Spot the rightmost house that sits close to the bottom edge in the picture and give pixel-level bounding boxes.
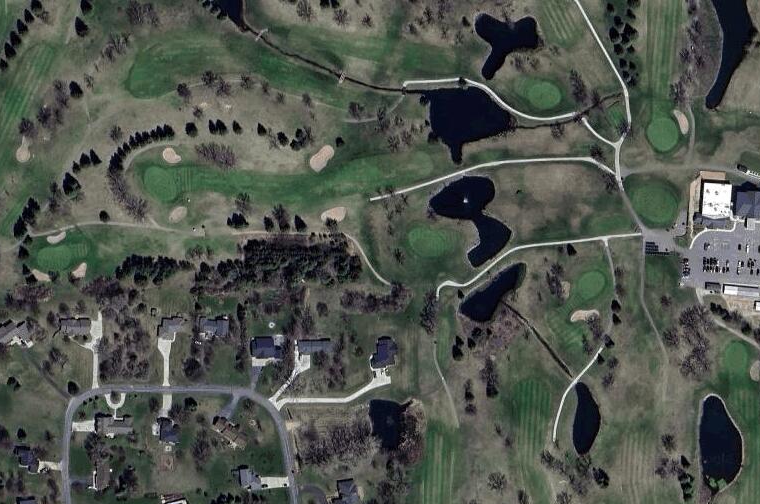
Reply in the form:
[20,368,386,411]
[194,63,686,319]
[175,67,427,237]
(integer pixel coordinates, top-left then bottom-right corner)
[333,479,358,504]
